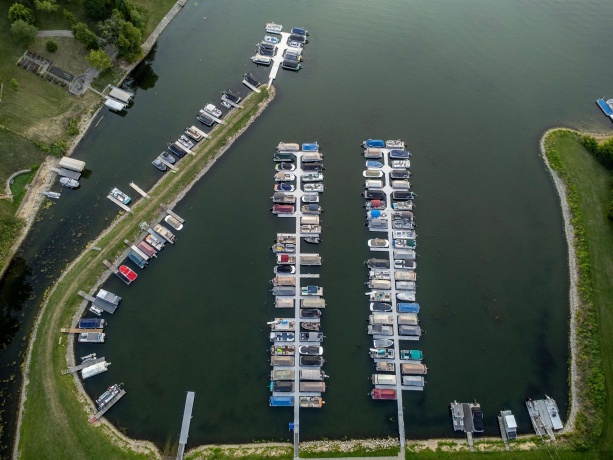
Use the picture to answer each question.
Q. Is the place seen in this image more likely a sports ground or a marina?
marina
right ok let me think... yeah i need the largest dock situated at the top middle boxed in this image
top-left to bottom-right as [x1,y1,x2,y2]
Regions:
[266,31,302,90]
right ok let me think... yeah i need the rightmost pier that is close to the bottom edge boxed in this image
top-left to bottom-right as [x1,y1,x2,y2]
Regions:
[536,400,556,441]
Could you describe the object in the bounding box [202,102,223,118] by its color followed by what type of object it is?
white boat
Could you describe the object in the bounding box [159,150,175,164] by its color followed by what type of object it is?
gray boat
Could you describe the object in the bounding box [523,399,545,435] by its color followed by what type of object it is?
gray boat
